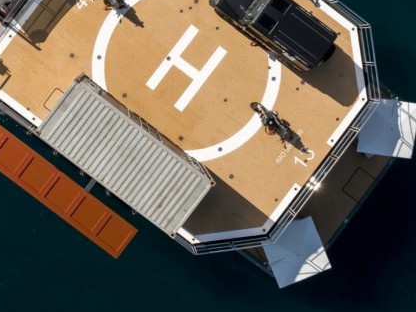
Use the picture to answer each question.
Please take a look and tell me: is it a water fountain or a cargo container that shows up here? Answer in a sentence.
The image shows a cargo container.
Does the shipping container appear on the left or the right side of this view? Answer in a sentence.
The shipping container appears in the left half of the scene.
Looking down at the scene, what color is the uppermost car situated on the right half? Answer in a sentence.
From above, the uppermost car situated on the right half appears black.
